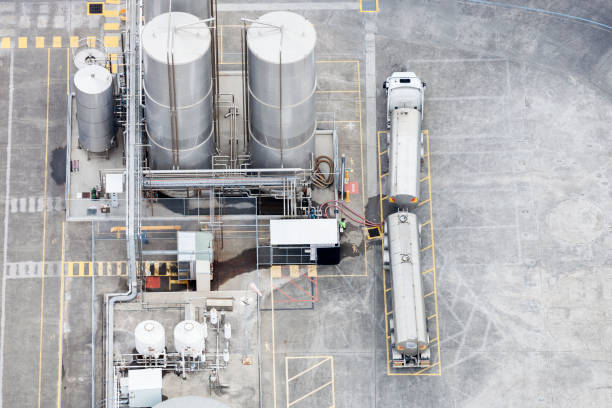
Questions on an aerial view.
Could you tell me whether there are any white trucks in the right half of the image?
Yes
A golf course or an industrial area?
industrial area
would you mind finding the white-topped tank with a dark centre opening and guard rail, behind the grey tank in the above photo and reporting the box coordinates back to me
[72,38,127,73]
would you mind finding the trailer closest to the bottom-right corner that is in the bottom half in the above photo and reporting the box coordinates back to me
[386,210,430,372]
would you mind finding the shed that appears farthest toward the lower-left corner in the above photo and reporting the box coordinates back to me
[128,369,162,407]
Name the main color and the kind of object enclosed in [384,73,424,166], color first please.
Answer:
white truck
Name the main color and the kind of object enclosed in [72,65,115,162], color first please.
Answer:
gray storage tank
